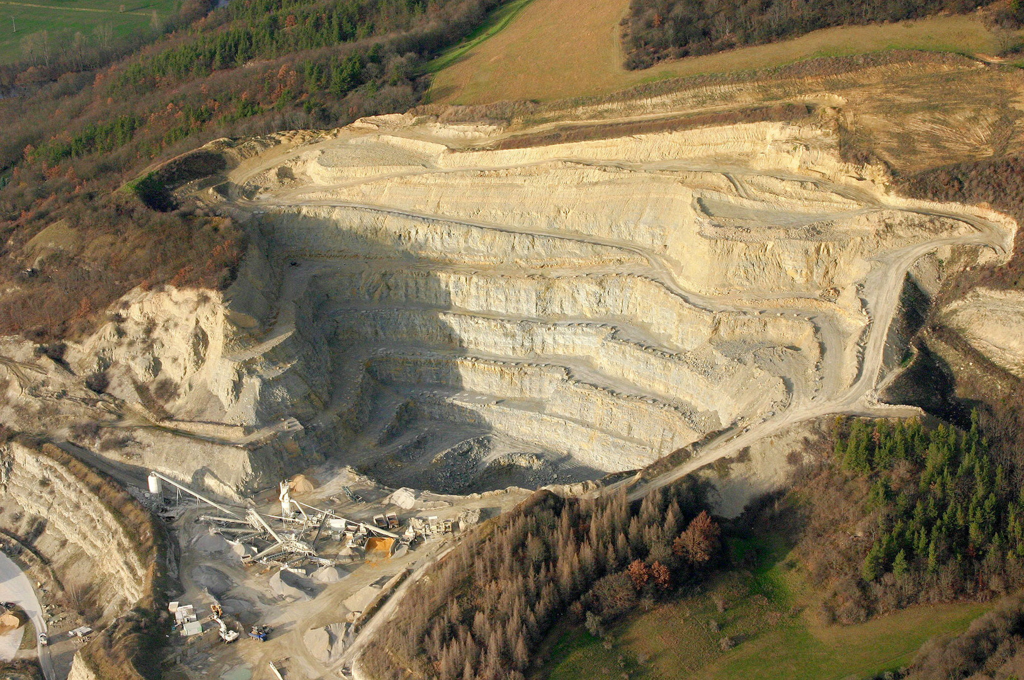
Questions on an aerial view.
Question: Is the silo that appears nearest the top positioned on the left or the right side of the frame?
left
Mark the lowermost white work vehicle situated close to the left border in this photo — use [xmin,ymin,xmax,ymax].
[35,631,48,650]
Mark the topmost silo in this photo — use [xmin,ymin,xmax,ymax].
[145,476,165,515]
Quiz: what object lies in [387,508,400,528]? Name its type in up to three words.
vehicle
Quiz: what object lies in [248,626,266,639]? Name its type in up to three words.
vehicle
